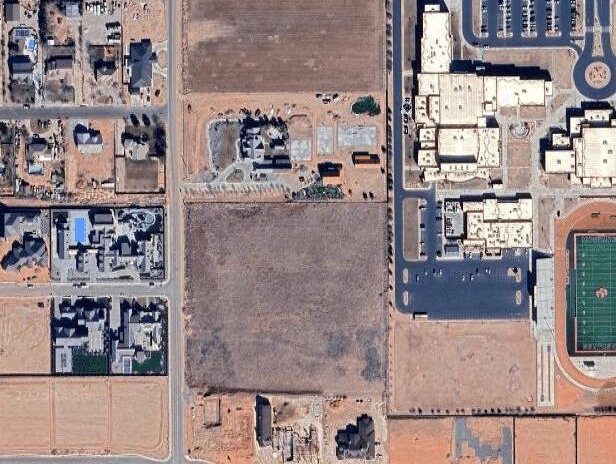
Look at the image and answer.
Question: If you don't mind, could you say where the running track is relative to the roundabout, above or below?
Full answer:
The running track appears below the roundabout in the picture.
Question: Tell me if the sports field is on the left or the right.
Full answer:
You can find the sports field on the right side of the picture.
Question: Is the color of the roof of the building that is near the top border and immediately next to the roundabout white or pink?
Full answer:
The color of the roof of the building that is near the top border and immediately next to the roundabout is white.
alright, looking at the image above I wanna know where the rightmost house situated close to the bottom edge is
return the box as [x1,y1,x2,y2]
[337,418,375,461]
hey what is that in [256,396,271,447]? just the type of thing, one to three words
barn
